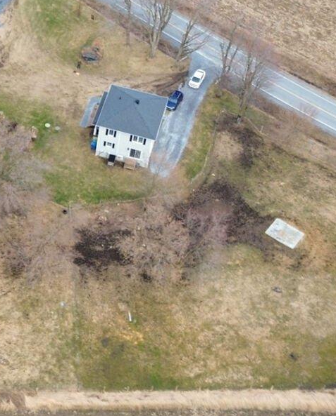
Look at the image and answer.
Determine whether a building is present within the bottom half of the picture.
No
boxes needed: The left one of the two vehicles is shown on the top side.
[167,89,183,113]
